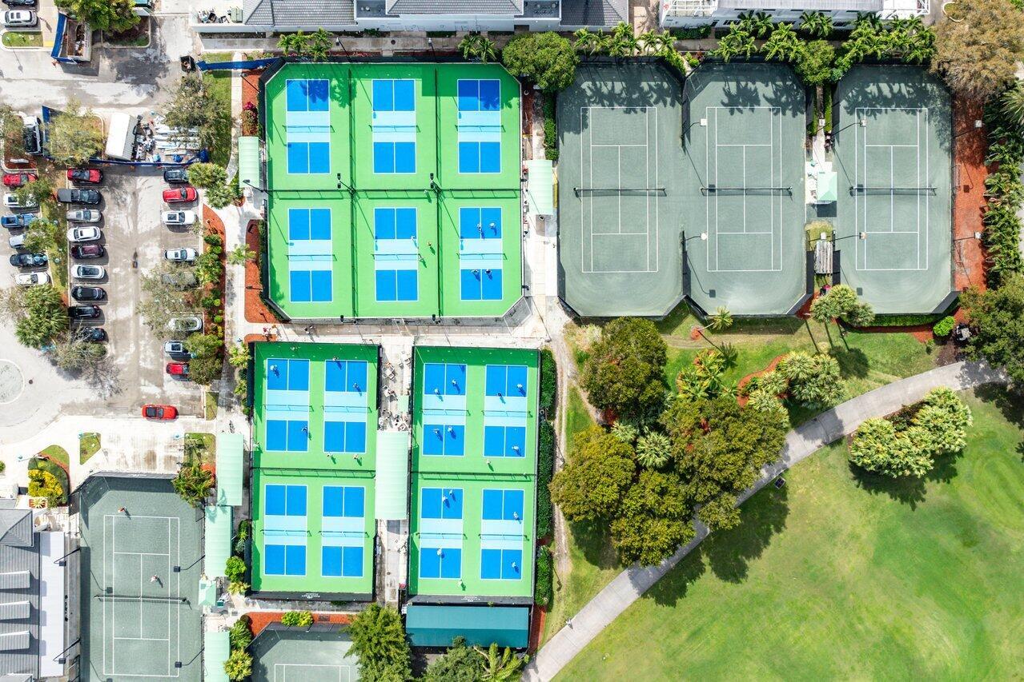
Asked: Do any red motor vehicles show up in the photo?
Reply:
Yes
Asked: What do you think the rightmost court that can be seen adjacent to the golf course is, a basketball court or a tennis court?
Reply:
tennis court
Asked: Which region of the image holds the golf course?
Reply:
bottom right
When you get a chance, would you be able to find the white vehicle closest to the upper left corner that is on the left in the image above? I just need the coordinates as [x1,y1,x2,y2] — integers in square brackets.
[1,9,37,26]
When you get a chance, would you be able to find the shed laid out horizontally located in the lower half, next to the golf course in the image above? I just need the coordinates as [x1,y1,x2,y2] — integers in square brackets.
[406,602,529,649]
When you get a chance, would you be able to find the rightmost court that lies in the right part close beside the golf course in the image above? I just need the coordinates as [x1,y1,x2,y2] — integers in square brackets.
[834,65,951,313]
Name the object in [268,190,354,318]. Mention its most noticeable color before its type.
green sports court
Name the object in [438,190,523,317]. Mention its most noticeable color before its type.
green sports court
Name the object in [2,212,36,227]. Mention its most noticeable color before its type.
blue car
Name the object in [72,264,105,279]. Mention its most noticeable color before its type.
white car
